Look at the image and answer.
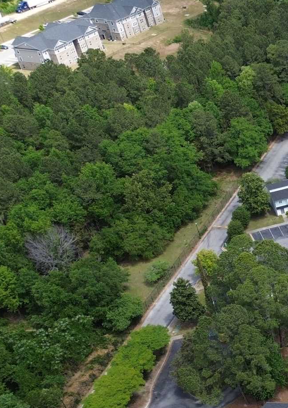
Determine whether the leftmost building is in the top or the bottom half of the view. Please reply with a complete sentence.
The leftmost building sits in the top half of the picture.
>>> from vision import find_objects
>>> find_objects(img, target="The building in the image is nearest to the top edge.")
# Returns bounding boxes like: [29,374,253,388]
[90,0,166,43]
